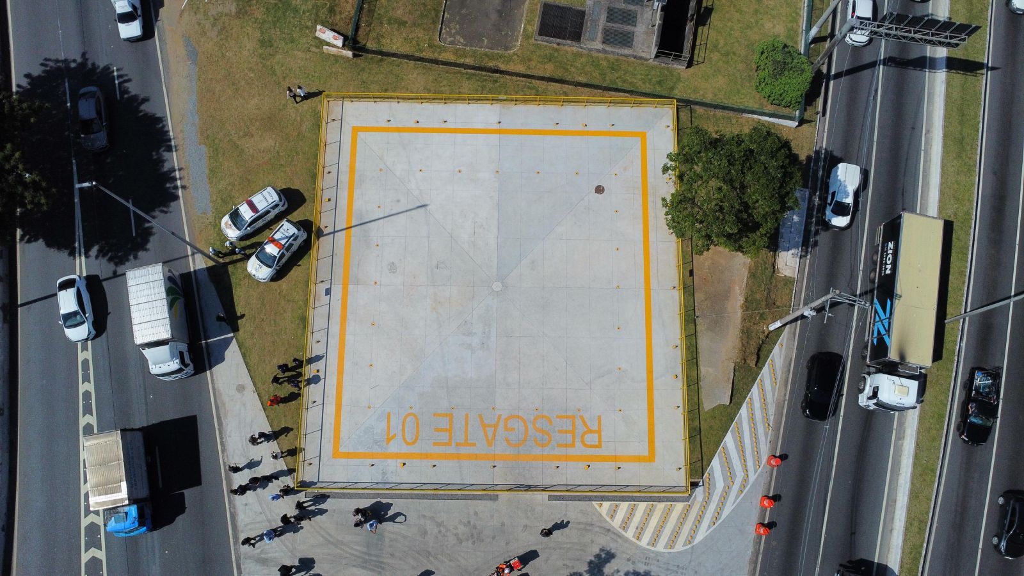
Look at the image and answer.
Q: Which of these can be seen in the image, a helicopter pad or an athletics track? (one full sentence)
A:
The one in the frame is a helicopter pad.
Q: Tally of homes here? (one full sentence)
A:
There are no homes in this view.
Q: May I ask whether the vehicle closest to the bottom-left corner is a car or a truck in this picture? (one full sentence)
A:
The vehicle closest to the bottom-left corner can be classified as a truck.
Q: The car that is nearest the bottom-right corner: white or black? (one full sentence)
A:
The car that is nearest the bottom-right corner is black.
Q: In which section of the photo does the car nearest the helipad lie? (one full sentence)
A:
Look in the left portion of the view to spot the car nearest the helipad.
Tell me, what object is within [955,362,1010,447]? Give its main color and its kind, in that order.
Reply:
black truck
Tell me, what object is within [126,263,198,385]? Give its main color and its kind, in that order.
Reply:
white truck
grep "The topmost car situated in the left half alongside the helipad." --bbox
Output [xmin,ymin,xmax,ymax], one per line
[222,183,287,243]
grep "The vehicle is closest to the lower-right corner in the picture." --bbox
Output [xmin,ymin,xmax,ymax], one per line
[987,489,1024,561]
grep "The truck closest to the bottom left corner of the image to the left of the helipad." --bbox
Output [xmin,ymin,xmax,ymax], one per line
[82,427,159,537]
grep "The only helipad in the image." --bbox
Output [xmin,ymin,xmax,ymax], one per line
[296,96,704,497]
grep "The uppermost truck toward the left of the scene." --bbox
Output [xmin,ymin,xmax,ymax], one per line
[109,0,148,44]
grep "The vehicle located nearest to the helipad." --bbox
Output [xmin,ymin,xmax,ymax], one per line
[248,217,308,283]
